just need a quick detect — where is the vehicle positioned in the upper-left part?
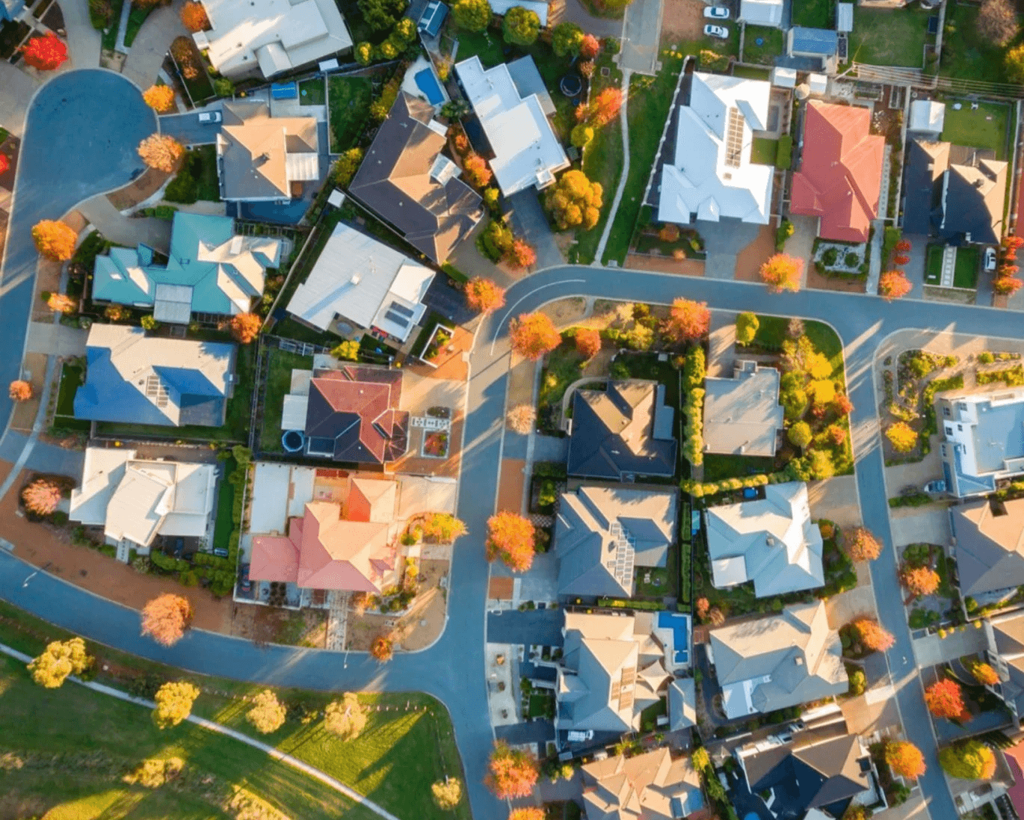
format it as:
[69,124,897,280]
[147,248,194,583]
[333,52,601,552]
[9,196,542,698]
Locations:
[193,110,218,123]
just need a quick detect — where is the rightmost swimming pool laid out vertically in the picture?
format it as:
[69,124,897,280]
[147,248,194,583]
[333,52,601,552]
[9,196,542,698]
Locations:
[767,102,782,132]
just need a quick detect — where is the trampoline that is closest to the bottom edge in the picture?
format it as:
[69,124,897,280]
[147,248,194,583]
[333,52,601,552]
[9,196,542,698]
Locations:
[281,430,304,451]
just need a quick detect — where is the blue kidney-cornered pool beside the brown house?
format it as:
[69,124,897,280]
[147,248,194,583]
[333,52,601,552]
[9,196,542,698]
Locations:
[410,63,449,108]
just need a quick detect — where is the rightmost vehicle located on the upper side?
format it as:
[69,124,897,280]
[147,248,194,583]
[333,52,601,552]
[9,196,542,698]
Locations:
[983,247,997,272]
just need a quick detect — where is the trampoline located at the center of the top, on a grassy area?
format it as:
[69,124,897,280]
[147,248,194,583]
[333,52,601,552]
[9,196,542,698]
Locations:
[561,74,582,96]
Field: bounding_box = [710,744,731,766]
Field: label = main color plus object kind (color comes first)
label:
gray gazebo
